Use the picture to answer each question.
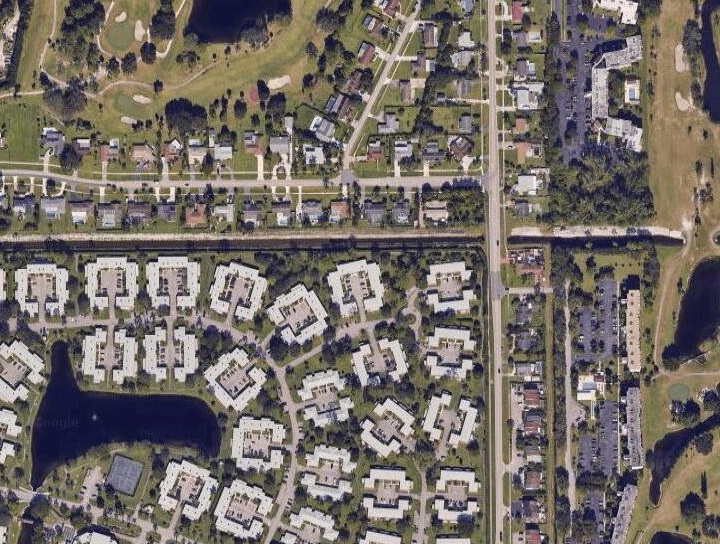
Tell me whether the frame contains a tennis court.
Yes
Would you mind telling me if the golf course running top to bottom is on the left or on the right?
right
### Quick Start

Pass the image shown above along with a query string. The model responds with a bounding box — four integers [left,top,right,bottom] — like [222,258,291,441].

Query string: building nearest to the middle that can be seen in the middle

[327,260,384,316]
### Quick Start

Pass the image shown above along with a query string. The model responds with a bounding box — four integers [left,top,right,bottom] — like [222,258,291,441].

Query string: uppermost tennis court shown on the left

[106,455,144,495]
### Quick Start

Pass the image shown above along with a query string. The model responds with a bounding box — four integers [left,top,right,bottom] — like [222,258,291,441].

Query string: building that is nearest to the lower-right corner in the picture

[614,486,640,544]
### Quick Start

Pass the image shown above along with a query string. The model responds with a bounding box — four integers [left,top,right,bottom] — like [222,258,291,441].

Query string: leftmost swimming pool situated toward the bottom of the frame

[578,376,606,399]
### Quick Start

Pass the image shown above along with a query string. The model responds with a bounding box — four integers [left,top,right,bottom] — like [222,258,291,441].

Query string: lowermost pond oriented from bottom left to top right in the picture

[650,416,720,506]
